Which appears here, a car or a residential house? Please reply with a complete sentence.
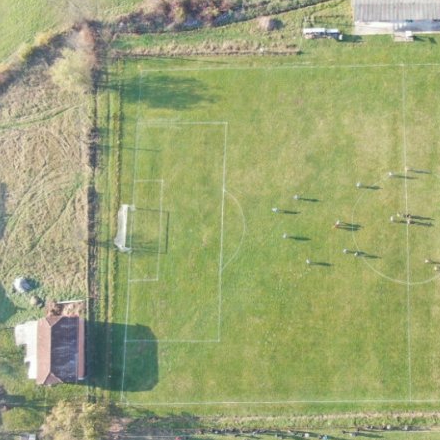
The one in the frame is a residential house.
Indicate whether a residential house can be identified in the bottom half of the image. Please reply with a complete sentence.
Yes, a residential house shows up in the bottom half of the image.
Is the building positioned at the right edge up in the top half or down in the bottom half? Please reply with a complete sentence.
The building positioned at the right edge sits in the top half of the picture.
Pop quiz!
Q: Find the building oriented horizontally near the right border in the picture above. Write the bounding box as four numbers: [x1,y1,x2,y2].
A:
[353,0,440,41]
